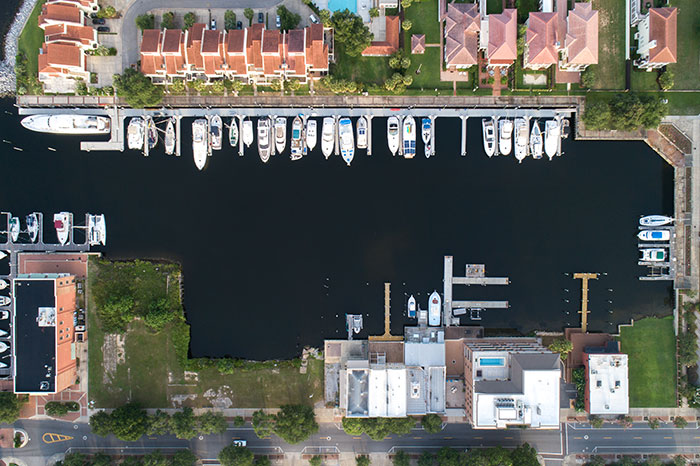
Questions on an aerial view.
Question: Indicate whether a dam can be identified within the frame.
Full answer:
No, I can see no dam in this picture.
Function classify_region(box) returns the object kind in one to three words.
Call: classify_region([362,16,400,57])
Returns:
building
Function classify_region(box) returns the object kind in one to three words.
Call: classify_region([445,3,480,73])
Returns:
house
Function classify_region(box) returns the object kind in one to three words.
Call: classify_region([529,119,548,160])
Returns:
boat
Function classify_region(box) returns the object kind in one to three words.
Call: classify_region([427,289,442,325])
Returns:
boat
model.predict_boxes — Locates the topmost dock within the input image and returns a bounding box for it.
[19,103,577,156]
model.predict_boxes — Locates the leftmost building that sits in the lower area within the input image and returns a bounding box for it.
[12,270,77,396]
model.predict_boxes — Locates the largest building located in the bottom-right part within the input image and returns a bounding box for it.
[465,342,561,428]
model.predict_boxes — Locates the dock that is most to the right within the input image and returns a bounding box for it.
[636,226,673,282]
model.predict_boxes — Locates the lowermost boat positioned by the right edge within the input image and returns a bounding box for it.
[638,248,667,261]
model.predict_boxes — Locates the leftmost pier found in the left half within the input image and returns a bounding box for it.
[0,212,92,279]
